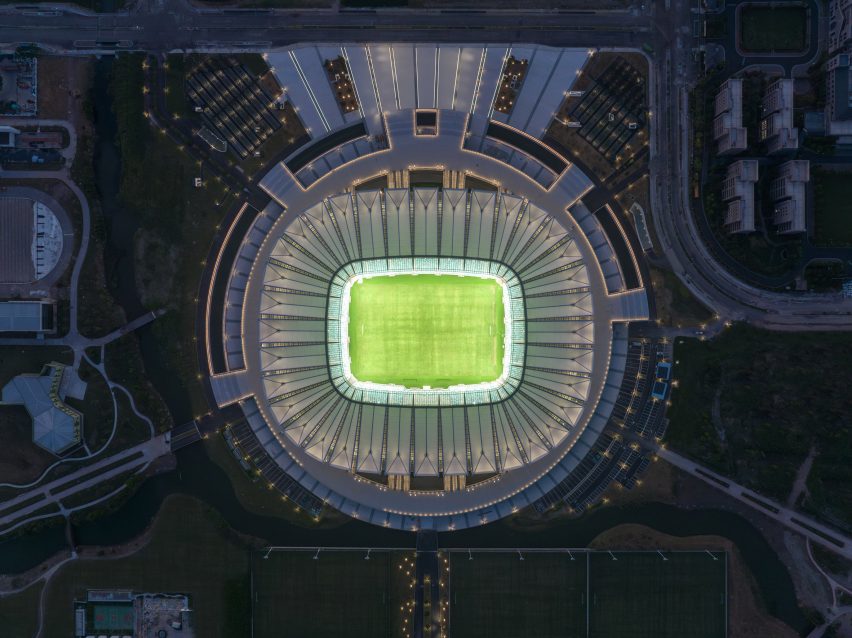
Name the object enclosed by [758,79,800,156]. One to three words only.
building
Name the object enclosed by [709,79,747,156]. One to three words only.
building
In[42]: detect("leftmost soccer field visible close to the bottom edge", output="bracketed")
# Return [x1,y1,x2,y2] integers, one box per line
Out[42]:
[252,550,390,638]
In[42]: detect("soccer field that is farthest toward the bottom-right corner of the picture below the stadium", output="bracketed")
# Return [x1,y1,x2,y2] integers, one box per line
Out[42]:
[589,550,727,638]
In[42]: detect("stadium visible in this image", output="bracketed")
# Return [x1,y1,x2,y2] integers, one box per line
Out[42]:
[205,109,648,532]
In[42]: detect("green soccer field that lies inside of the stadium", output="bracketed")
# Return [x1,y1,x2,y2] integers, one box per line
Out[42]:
[344,270,508,391]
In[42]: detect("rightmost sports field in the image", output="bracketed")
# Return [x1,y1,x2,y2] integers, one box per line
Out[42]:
[806,172,852,246]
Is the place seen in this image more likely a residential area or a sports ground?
sports ground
